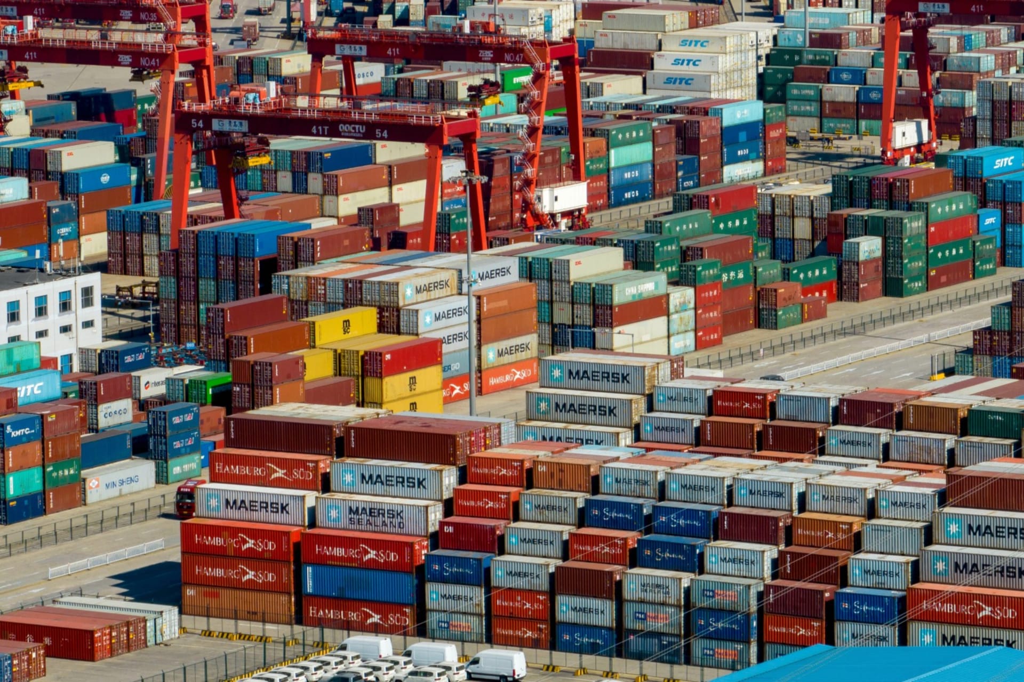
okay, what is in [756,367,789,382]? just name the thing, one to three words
car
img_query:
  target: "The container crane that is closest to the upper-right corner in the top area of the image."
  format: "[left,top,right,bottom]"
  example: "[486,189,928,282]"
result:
[873,0,1024,164]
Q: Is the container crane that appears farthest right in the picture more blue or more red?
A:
red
